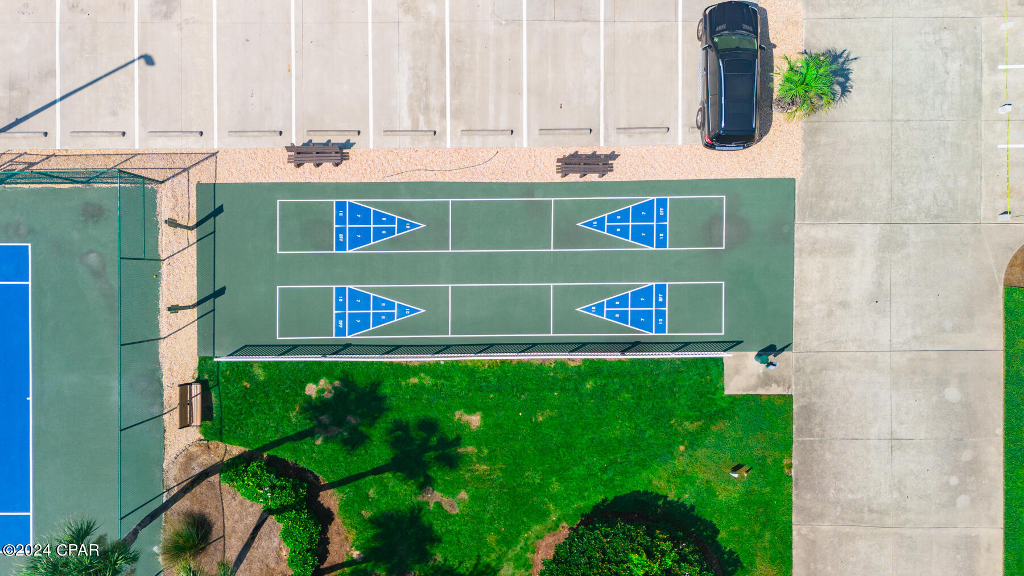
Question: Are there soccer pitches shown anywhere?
No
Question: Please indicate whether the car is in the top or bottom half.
top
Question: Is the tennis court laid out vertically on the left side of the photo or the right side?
left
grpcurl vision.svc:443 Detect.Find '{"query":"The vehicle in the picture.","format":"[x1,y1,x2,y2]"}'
[696,0,768,151]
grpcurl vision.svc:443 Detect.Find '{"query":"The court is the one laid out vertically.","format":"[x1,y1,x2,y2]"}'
[0,185,163,576]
